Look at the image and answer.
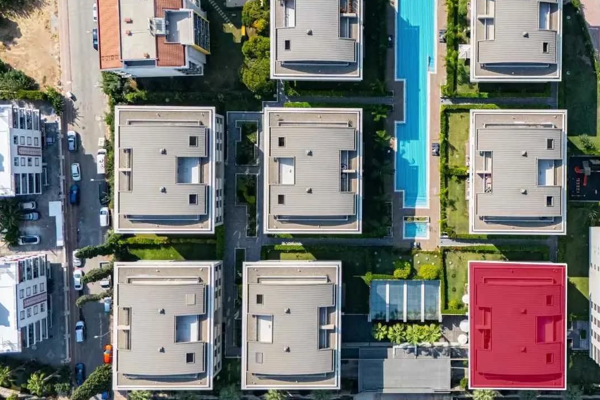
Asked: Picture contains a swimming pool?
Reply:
Yes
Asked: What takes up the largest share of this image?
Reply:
buildings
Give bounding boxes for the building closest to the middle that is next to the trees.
[264,108,365,235]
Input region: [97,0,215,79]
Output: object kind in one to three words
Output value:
building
